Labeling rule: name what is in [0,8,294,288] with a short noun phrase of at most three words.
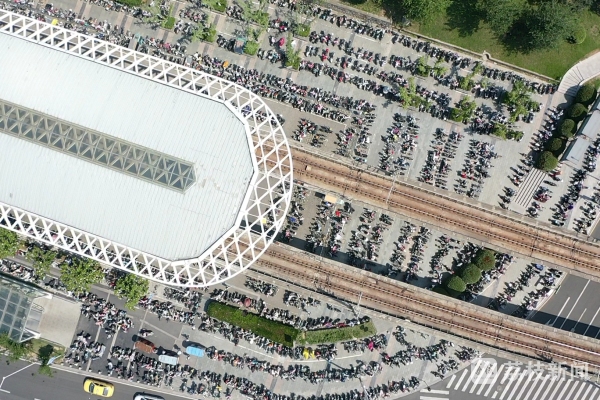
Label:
train station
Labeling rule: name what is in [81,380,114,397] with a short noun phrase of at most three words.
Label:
car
